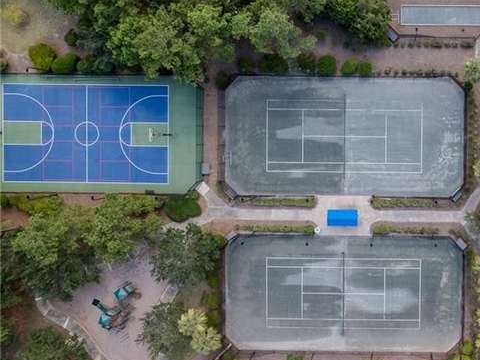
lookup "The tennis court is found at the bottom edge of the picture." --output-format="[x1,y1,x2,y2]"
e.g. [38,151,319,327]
[224,234,465,353]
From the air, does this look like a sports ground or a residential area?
sports ground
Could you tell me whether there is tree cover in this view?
Yes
